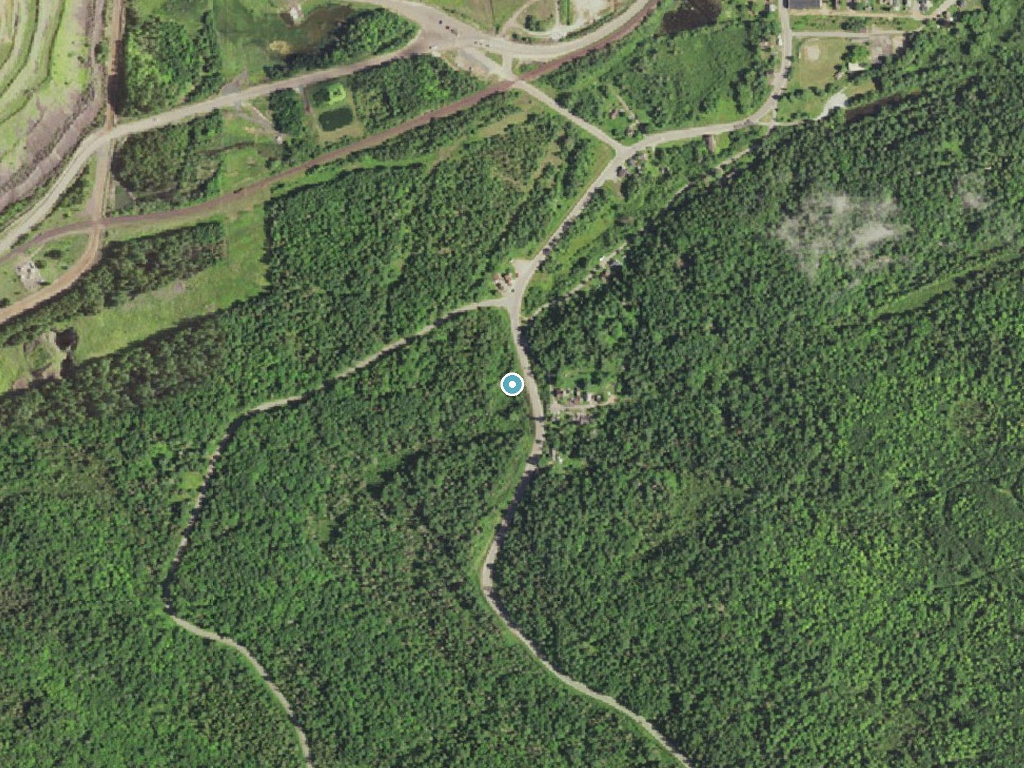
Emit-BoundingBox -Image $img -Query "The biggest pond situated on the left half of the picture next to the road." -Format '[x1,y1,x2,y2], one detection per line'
[290,5,363,56]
